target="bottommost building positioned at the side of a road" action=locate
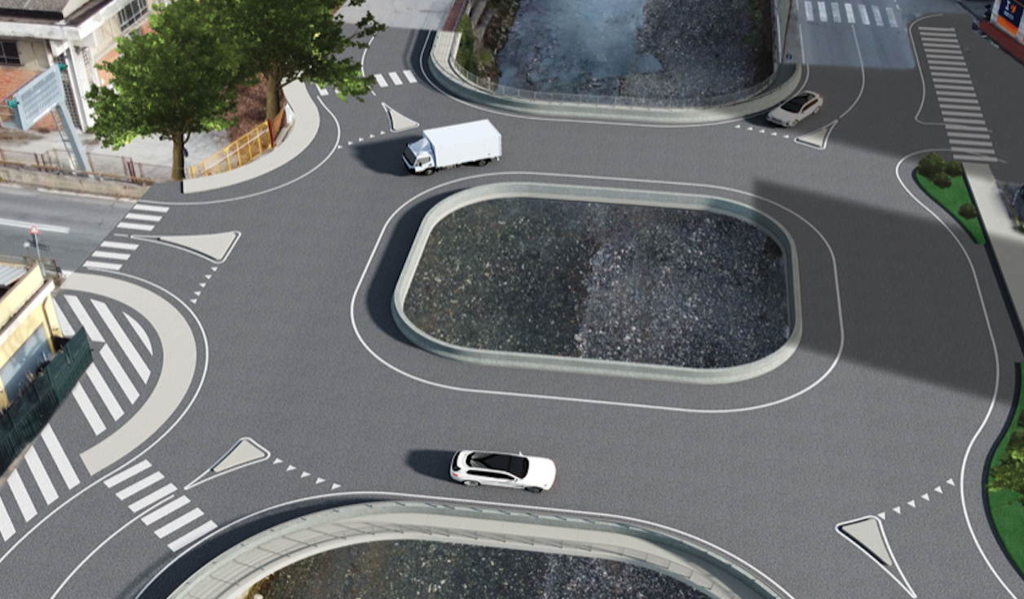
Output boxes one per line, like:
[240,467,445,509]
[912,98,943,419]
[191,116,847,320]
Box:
[0,255,67,412]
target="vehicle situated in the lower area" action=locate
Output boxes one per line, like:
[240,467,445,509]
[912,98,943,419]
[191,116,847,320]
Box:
[451,445,557,493]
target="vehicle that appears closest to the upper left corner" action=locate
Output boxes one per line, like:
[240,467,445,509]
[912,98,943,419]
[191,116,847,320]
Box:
[403,116,502,176]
